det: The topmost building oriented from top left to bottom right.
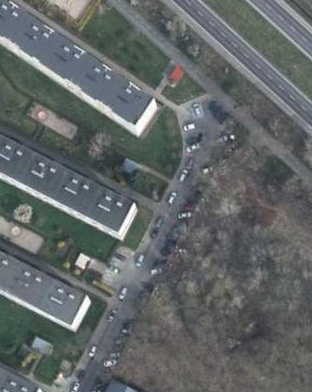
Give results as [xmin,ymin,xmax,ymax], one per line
[0,0,154,135]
